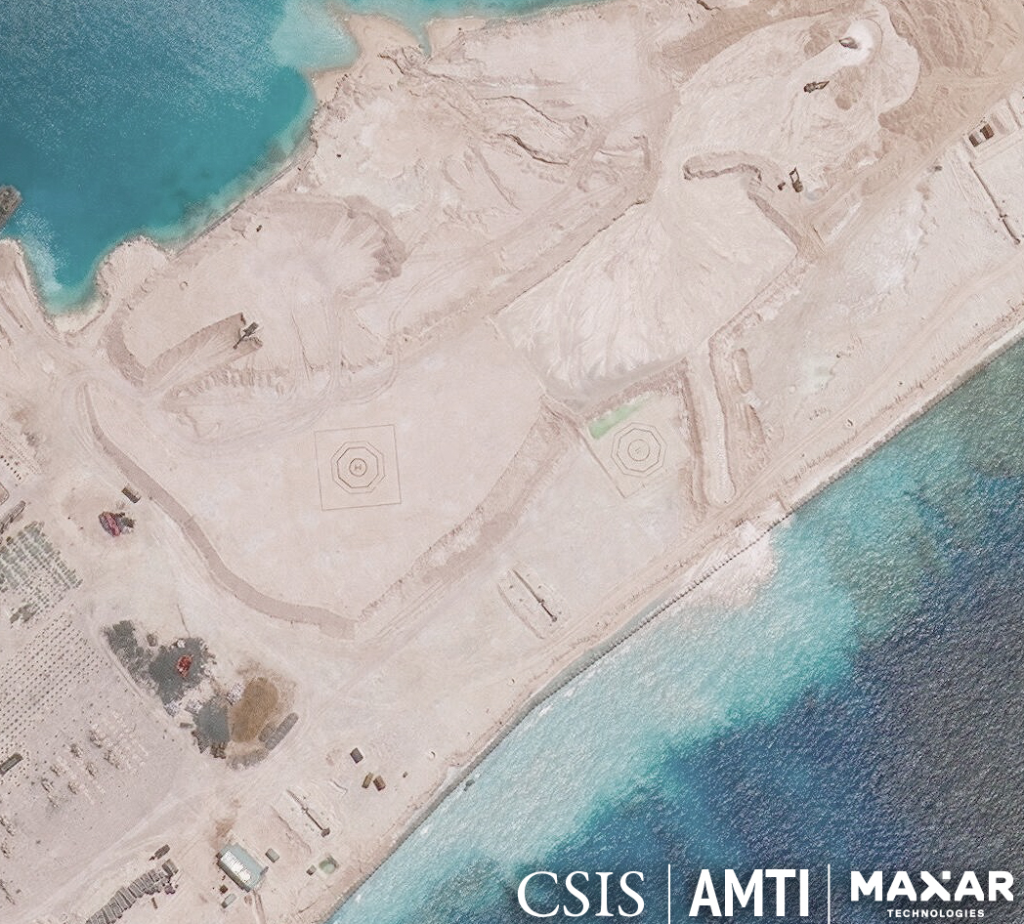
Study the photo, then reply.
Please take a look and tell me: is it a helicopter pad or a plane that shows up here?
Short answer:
helicopter pad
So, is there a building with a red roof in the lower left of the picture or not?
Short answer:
No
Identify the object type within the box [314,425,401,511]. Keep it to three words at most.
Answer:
helipad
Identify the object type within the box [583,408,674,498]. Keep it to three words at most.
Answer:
helipad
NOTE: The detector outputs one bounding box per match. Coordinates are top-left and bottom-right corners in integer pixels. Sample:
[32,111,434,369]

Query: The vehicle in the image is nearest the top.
[839,38,859,51]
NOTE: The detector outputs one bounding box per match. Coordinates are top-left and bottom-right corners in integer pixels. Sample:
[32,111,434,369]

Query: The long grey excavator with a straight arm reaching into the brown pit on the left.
[234,323,259,348]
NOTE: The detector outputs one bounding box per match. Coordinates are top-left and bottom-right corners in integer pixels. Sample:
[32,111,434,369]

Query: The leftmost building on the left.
[220,845,270,888]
